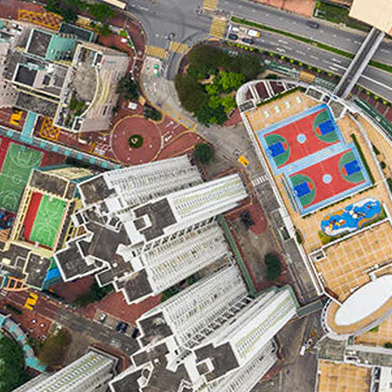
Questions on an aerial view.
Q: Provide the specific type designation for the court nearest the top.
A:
basketball court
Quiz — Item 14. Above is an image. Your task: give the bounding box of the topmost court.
[260,103,346,175]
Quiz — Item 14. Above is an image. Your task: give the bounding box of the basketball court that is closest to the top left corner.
[0,141,44,214]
